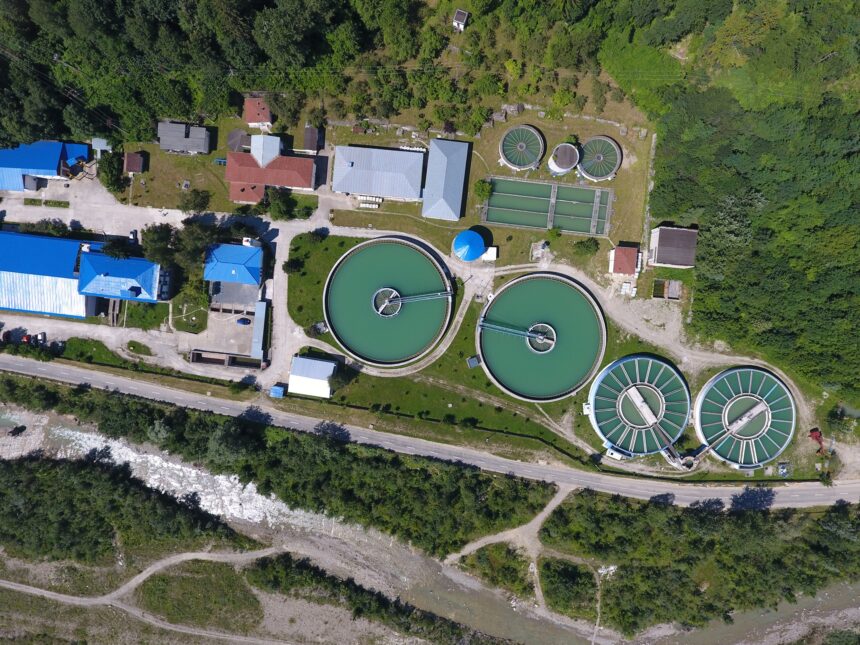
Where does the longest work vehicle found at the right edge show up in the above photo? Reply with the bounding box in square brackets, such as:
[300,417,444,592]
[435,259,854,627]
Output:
[810,427,829,454]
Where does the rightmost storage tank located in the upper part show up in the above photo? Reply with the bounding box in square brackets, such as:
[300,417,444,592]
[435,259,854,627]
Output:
[571,135,622,186]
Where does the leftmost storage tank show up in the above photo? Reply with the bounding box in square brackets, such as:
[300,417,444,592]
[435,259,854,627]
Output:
[322,237,454,368]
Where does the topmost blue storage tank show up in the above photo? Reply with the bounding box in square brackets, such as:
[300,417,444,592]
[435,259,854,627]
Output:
[453,230,496,262]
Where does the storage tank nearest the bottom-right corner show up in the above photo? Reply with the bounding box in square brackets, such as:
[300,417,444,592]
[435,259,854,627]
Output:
[691,367,795,466]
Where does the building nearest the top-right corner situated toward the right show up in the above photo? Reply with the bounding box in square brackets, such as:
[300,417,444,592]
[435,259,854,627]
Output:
[649,225,699,270]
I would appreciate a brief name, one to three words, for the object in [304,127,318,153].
shed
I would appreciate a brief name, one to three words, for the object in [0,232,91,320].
building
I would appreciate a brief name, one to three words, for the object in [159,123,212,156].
house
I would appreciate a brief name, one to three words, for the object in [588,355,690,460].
storage tank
